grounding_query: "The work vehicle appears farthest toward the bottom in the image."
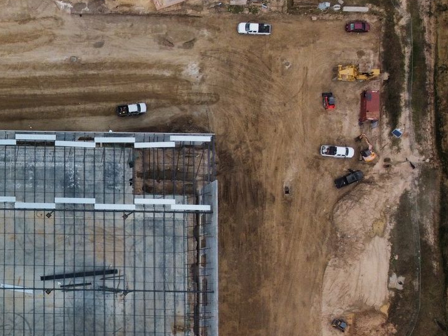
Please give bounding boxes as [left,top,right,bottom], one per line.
[327,316,349,332]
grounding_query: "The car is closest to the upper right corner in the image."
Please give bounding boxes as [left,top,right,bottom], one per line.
[345,20,370,34]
